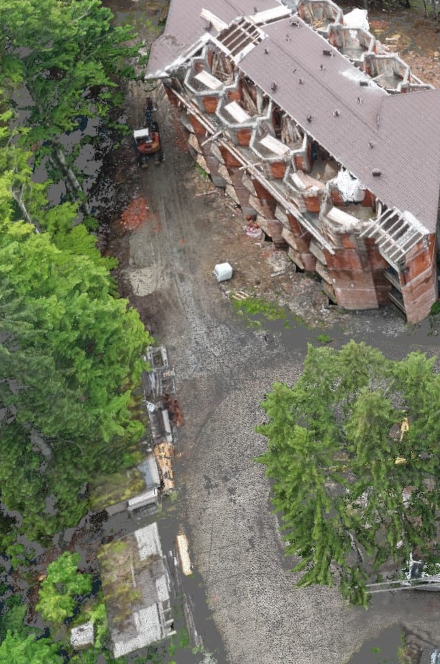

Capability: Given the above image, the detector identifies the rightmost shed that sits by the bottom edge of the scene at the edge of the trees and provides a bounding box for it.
[98,524,185,664]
